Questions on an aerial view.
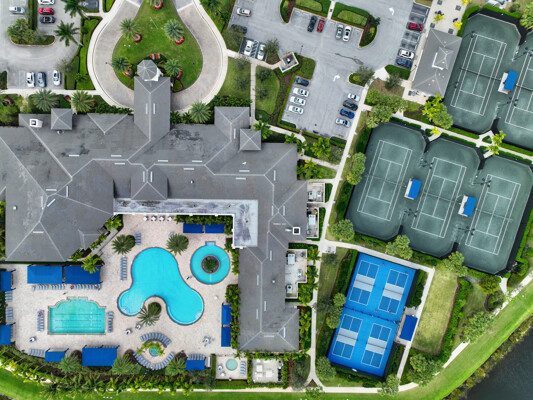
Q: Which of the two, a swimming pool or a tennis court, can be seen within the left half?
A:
swimming pool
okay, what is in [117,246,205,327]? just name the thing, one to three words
swimming pool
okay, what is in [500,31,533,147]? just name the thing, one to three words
tennis court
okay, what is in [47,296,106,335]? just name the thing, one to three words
swimming pool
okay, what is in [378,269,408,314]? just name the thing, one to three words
sports court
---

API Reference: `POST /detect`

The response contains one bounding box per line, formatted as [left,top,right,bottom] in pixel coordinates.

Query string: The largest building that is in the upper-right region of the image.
[409,28,462,99]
